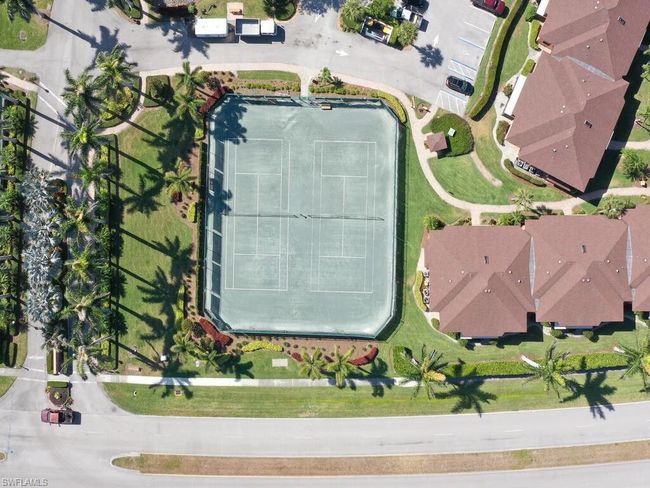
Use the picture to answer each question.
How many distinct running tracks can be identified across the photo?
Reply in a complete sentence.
There are no running tracks in this view.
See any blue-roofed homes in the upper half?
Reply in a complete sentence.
No, there's no blue-roofed home to be seen in the upper half.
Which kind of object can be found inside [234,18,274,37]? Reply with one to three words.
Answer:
vehicle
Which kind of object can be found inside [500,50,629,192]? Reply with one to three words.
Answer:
house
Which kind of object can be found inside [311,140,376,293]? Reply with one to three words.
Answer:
tennis court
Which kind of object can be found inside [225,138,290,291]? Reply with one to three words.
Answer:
tennis court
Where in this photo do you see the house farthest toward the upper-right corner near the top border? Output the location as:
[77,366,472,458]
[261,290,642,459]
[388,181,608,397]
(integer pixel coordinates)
[529,0,650,81]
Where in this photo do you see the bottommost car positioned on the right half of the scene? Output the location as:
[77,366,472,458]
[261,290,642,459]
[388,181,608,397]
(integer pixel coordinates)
[445,74,475,96]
